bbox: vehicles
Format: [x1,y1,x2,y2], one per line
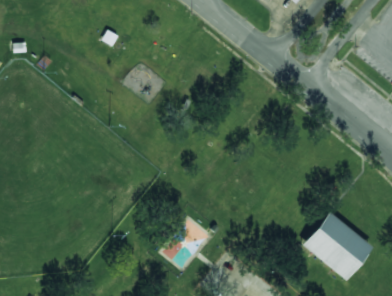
[224,262,233,270]
[284,0,291,8]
